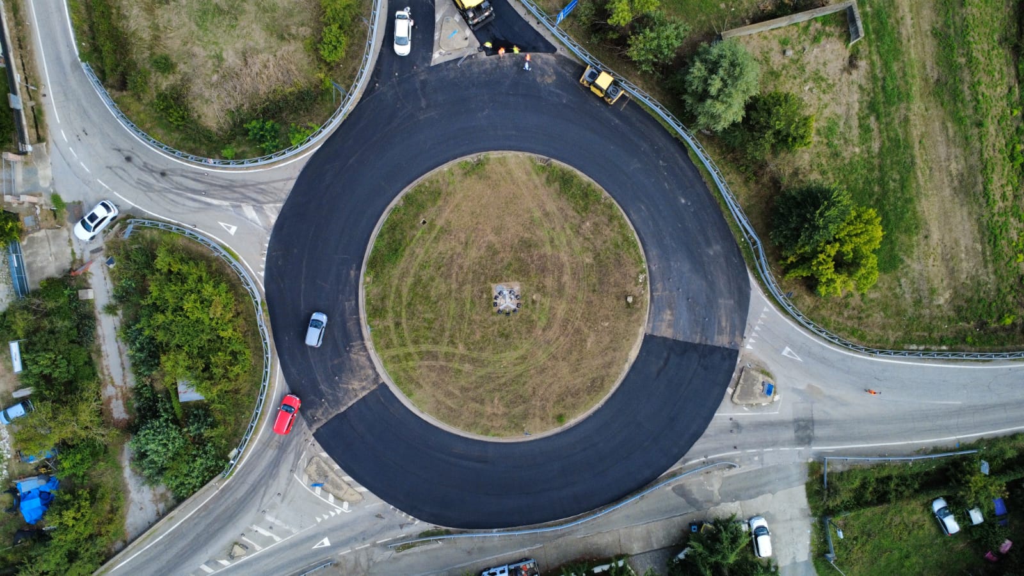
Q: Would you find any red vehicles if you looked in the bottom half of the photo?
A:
Yes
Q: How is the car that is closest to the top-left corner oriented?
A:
on a diagonal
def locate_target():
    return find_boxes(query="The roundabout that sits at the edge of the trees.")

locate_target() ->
[263,0,752,529]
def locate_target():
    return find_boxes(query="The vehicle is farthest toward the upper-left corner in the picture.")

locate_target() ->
[75,201,121,240]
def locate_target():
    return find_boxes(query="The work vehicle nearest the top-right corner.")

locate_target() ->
[577,67,626,106]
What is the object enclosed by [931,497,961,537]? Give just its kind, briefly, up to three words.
car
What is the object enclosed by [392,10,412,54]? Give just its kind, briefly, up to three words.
car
